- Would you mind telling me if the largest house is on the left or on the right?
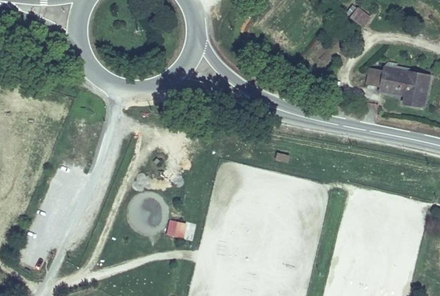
right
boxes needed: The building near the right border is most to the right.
[367,62,433,108]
